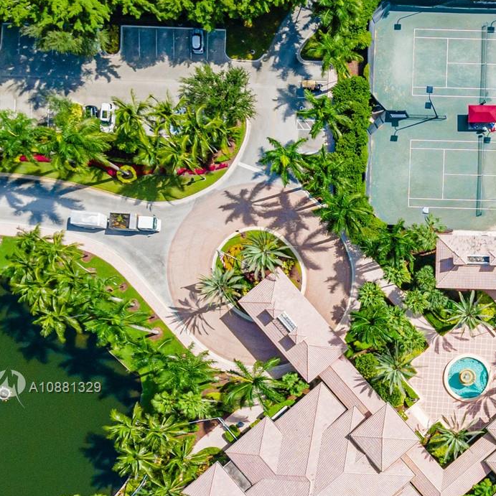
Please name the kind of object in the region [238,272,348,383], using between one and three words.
building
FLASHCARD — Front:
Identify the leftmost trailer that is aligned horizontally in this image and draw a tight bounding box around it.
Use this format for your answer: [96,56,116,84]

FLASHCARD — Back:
[65,211,105,229]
